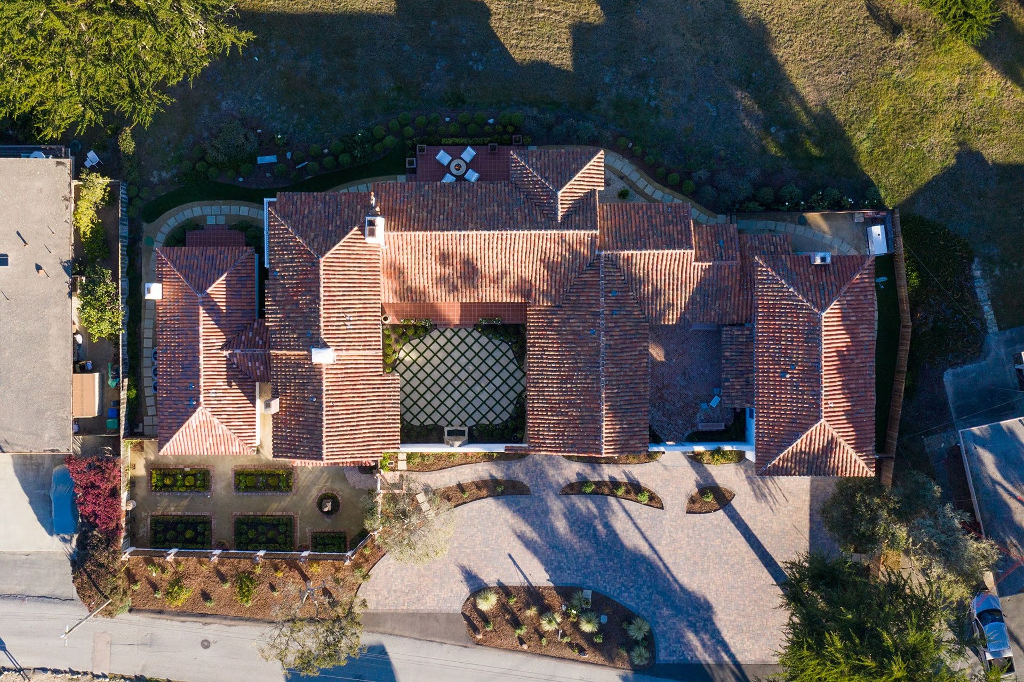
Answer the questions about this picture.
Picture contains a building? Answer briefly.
Yes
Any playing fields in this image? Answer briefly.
No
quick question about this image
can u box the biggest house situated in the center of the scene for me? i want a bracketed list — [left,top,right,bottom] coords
[145,148,877,477]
